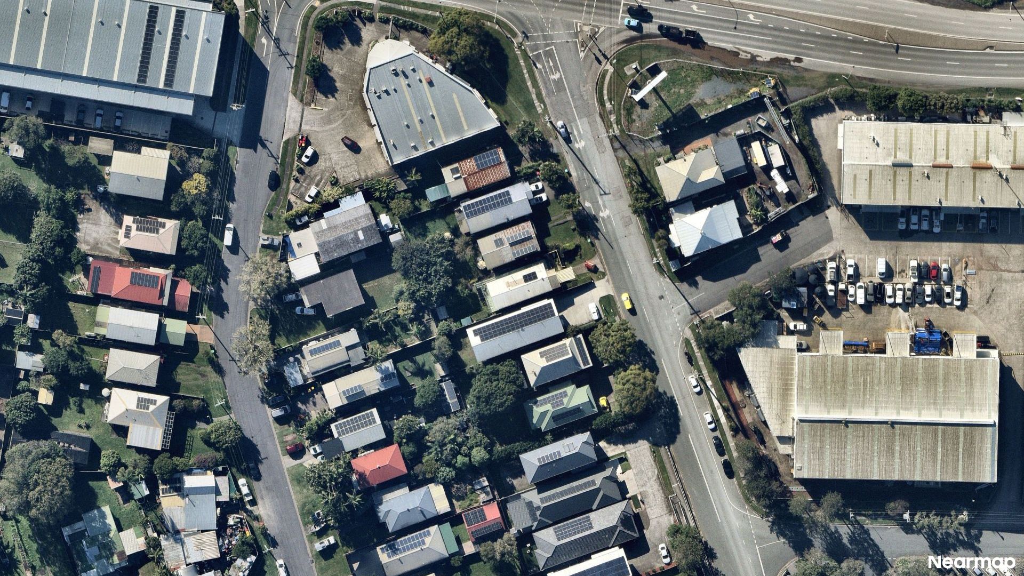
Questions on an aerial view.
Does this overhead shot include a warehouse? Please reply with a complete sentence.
Yes, the frame does contain a warehouse.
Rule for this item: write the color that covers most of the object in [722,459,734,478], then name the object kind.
black vehicle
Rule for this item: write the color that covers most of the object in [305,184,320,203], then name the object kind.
white car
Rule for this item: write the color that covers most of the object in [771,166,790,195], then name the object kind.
white vehicle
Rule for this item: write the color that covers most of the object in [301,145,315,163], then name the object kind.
white car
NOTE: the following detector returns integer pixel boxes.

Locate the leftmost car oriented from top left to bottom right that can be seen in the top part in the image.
[340,135,359,151]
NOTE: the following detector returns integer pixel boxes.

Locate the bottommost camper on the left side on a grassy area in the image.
[316,537,334,549]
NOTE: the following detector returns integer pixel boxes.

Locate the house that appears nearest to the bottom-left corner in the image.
[61,505,128,576]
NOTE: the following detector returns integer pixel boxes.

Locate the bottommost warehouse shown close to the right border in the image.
[739,321,1002,488]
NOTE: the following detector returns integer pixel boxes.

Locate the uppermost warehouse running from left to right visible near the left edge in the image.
[0,0,225,114]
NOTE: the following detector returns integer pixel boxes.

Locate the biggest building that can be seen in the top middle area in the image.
[362,39,500,164]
